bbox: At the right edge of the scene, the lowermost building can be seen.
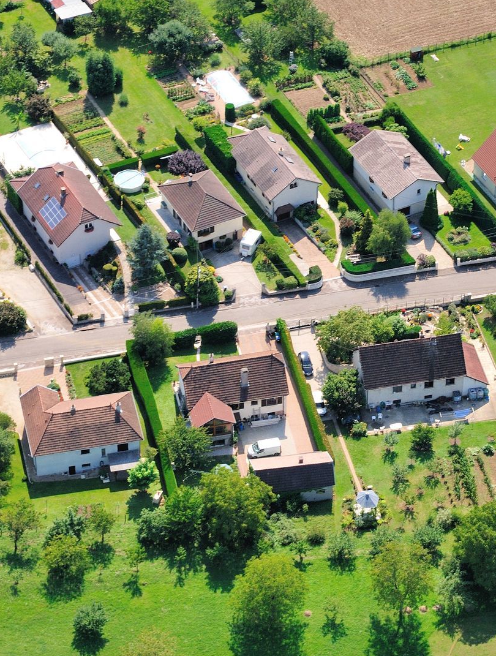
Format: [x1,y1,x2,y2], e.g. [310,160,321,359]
[354,330,482,407]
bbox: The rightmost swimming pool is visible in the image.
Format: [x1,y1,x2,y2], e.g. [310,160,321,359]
[114,173,145,198]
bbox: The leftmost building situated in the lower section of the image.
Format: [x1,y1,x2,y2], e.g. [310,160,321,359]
[18,385,145,474]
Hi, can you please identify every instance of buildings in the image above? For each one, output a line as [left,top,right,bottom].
[254,450,336,509]
[175,352,293,446]
[18,385,145,474]
[9,161,124,268]
[227,126,323,225]
[354,330,482,407]
[410,46,423,61]
[347,130,444,215]
[41,0,92,31]
[157,169,246,250]
[471,133,496,203]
